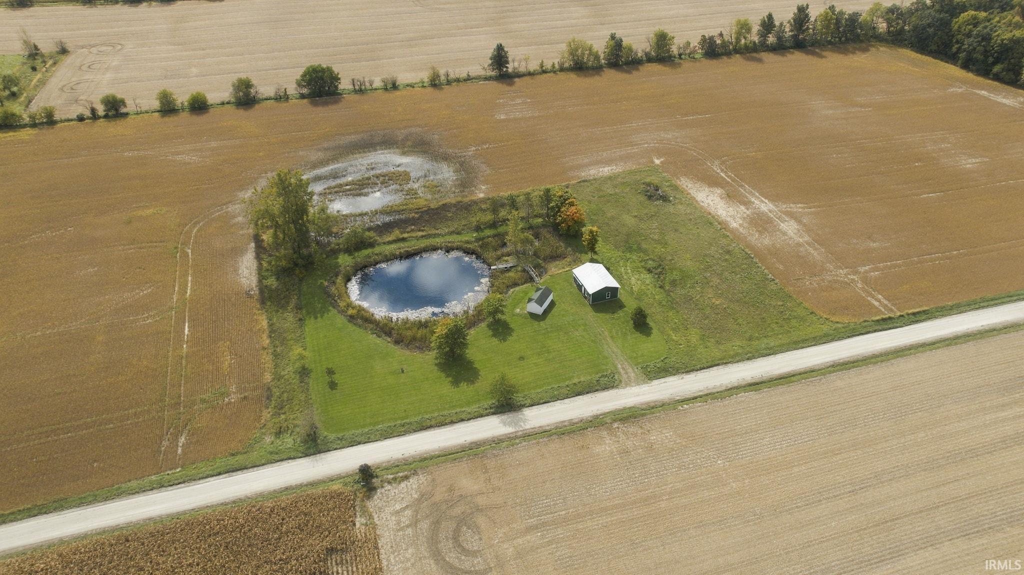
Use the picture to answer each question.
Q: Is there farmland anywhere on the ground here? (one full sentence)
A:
Yes, there is farmland in the image.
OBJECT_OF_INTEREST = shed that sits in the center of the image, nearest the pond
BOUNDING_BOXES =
[526,286,552,314]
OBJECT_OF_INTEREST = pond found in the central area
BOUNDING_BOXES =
[349,250,490,319]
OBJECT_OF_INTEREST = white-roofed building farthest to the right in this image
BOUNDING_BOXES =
[571,262,622,304]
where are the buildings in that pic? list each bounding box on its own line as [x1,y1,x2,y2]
[571,262,622,304]
[526,286,552,314]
